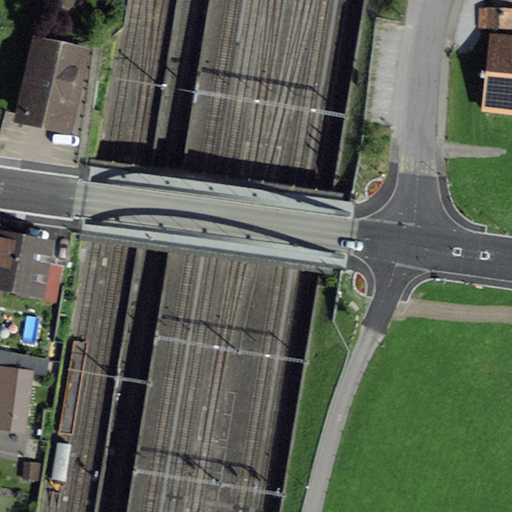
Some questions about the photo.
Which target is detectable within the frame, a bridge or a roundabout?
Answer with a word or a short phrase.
bridge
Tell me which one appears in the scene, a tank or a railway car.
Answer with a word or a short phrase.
railway car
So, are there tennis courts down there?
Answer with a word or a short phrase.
No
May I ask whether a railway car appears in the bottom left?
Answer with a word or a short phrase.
Yes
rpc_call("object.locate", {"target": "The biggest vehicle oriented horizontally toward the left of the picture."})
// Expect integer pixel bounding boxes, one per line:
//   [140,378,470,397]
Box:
[50,134,80,148]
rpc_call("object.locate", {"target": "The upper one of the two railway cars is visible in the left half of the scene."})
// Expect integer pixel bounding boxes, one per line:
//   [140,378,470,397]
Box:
[59,339,86,437]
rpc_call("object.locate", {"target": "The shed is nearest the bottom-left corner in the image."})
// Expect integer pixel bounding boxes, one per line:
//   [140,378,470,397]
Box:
[22,462,42,482]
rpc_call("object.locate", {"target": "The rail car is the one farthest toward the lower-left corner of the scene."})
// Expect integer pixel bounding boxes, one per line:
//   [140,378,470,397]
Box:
[52,440,70,484]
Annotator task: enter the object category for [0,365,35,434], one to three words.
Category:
house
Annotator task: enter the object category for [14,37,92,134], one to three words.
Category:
house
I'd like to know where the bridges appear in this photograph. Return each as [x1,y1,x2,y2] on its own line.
[80,160,356,274]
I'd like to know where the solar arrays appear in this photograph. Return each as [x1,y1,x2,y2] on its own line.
[486,76,512,112]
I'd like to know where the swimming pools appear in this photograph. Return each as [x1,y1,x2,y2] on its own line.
[20,315,42,348]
